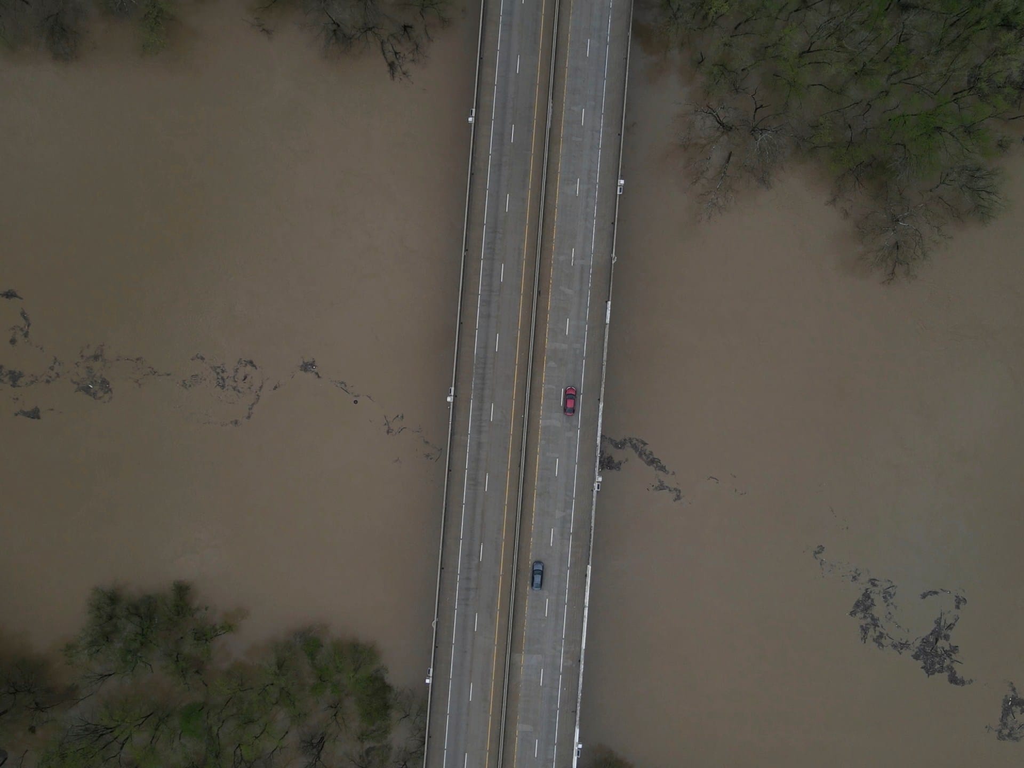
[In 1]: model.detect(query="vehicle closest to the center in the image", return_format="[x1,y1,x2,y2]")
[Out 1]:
[564,387,577,415]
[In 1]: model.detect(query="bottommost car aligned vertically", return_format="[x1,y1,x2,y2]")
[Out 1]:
[532,562,544,591]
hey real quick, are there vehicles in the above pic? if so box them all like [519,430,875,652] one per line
[532,562,544,591]
[564,387,577,415]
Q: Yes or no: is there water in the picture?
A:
Yes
